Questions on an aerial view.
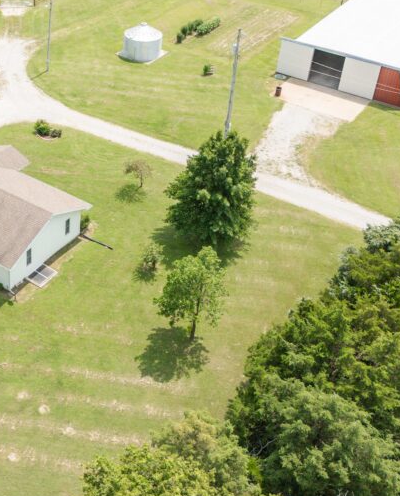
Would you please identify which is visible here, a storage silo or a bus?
storage silo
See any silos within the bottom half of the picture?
No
